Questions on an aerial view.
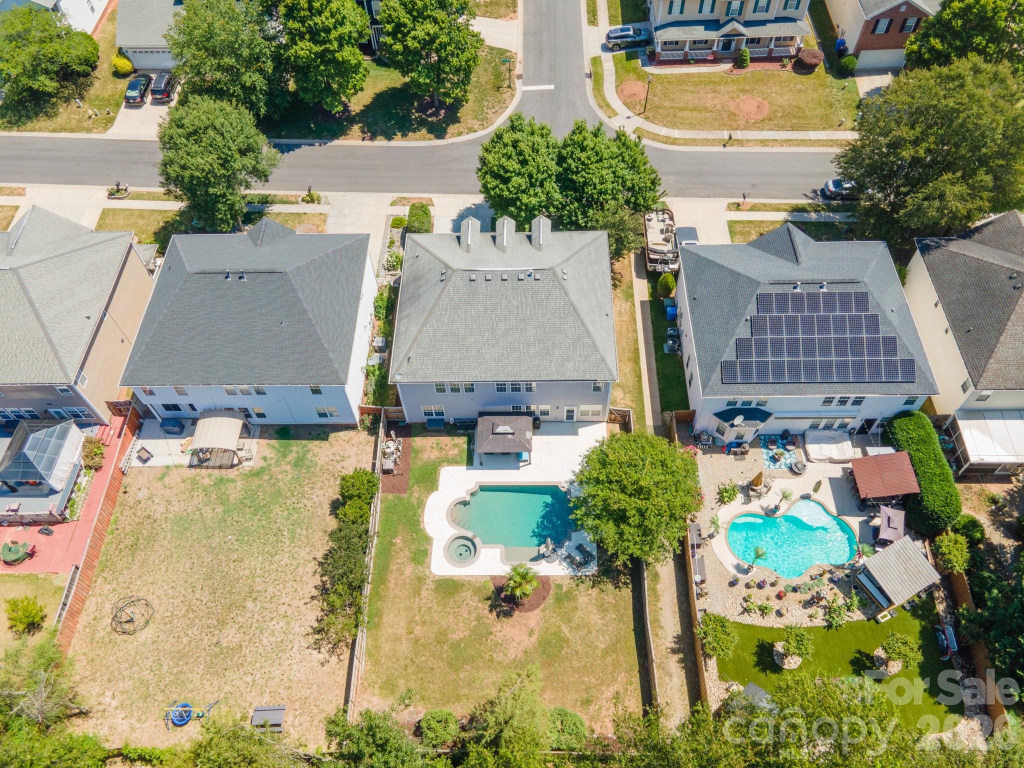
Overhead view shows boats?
Yes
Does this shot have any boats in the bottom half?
No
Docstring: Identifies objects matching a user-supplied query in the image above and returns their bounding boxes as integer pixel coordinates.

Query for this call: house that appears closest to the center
[386,215,621,420]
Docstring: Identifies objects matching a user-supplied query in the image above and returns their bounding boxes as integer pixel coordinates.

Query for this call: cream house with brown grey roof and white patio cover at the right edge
[898,209,1024,477]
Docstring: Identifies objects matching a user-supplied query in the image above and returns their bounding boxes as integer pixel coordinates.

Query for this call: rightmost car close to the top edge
[606,25,651,50]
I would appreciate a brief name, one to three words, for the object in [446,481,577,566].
swimming pool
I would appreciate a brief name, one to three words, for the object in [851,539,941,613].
building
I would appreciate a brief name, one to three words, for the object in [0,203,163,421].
house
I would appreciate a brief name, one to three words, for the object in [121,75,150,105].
car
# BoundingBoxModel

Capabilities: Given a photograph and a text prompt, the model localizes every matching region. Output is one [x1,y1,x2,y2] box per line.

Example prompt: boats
[645,204,680,274]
